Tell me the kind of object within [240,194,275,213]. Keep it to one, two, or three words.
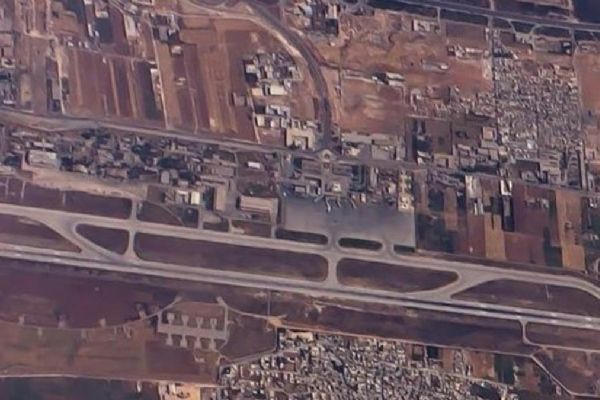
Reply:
hangar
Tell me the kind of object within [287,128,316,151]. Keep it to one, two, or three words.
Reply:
building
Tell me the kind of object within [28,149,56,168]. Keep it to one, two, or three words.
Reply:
building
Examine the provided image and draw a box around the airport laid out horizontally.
[0,176,600,351]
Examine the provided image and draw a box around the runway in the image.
[0,245,600,329]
